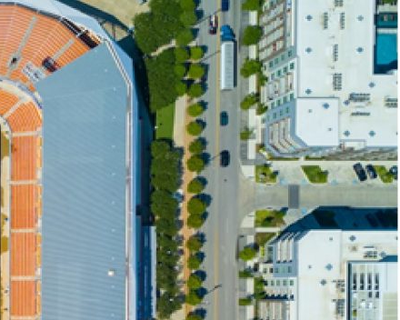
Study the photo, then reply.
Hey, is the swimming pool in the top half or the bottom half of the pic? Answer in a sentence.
You can find the swimming pool in the top half.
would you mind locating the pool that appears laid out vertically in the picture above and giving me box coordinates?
[375,0,400,73]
